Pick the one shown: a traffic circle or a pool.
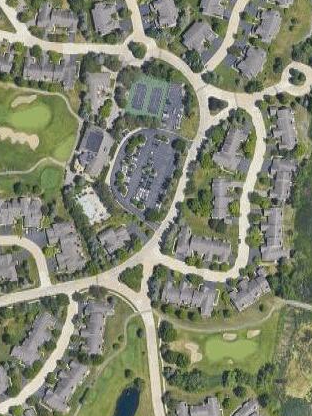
pool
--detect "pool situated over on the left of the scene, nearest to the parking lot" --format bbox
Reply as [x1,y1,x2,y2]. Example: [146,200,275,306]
[77,187,111,225]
